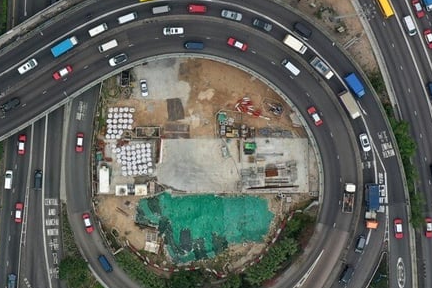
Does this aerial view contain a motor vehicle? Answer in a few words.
Yes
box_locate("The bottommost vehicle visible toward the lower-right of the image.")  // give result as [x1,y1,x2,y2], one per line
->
[339,263,356,284]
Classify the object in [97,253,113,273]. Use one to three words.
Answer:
vehicle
